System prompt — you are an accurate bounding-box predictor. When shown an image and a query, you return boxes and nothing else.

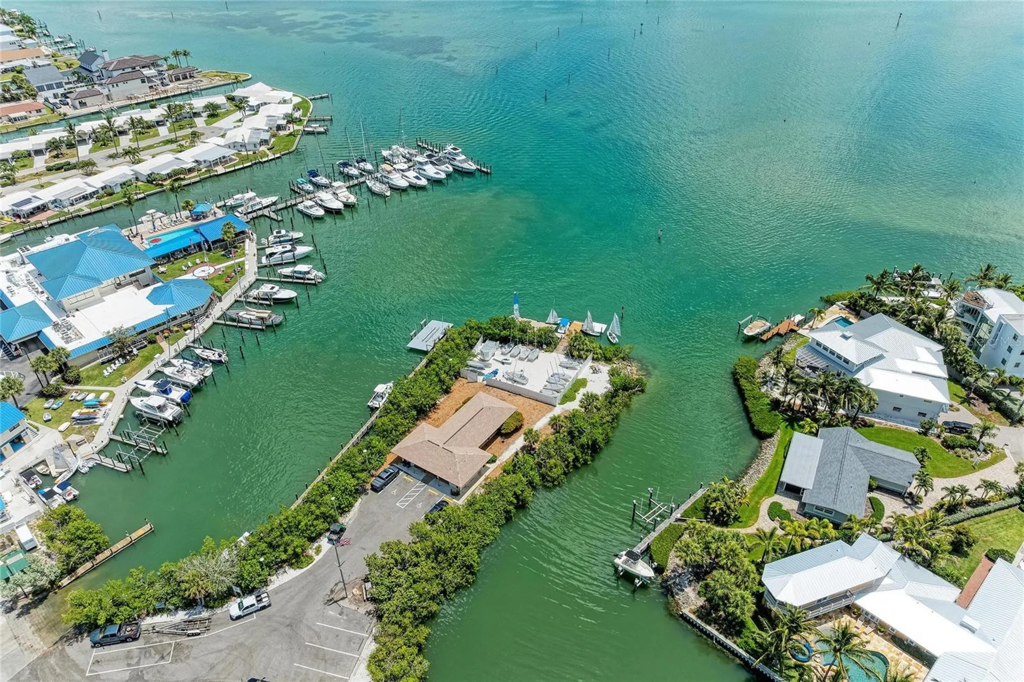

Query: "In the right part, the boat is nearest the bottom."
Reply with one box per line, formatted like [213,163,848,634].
[608,554,654,580]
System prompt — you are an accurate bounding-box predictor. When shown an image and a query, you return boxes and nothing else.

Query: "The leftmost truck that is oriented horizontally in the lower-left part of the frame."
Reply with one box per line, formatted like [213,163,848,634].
[86,620,143,649]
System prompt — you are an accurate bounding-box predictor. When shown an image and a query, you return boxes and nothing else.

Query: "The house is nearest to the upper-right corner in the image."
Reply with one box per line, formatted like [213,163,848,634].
[948,287,1024,380]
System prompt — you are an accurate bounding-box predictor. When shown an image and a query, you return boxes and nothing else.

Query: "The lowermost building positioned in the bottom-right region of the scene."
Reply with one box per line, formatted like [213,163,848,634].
[763,533,1024,682]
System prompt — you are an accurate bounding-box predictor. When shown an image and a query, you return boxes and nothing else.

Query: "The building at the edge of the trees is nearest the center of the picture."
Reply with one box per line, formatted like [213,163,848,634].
[390,392,517,497]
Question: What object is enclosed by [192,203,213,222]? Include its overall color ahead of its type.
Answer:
blue gazebo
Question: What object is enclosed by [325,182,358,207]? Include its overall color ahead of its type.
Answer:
white boat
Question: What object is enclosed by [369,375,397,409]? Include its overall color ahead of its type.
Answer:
white boat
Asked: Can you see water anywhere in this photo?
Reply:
Yes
